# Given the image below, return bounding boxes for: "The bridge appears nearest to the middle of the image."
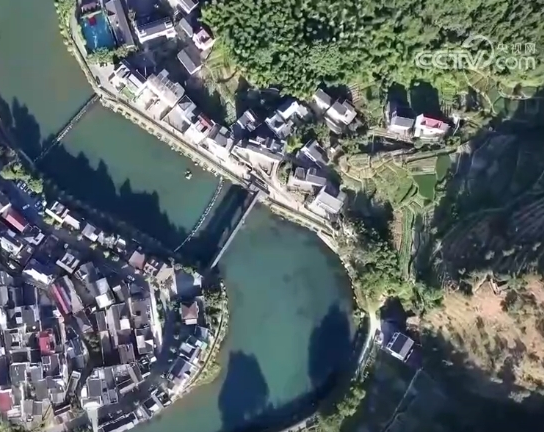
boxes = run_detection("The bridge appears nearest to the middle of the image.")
[207,190,264,274]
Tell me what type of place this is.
residential area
